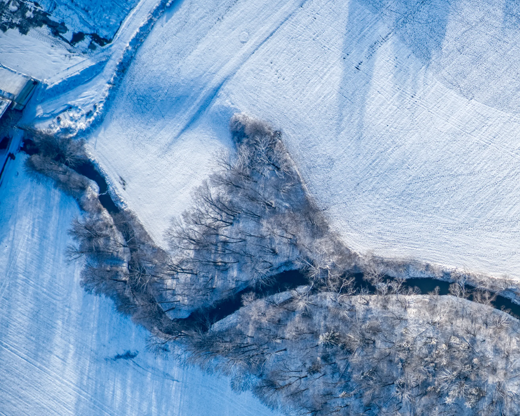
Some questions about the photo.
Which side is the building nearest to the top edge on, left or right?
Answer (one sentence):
The building nearest to the top edge sits on the left side.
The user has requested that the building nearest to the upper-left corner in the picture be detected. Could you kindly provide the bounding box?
[0,66,35,100]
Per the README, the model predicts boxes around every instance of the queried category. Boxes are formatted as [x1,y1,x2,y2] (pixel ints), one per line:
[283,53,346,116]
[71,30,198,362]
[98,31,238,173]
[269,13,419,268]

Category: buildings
[0,96,18,120]
[0,66,35,100]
